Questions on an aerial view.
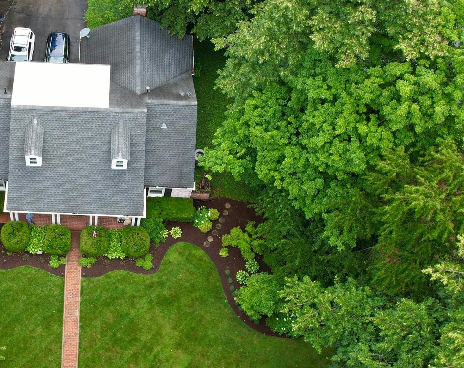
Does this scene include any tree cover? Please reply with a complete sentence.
Yes, some tree cover is visible.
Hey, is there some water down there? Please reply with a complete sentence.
No, no water is visible.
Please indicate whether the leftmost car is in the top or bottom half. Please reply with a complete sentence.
Seen from above, the leftmost car lies in the top half of the view.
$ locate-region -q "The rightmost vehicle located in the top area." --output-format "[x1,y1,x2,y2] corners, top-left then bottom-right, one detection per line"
[45,32,70,60]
